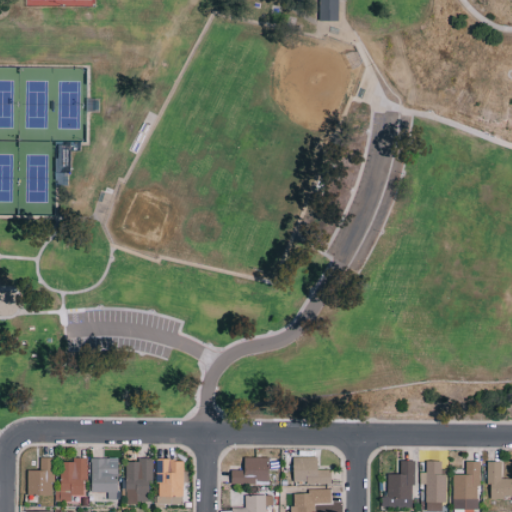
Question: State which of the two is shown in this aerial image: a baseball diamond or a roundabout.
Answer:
baseball diamond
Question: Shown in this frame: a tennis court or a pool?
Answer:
tennis court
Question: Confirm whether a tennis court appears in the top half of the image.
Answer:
Yes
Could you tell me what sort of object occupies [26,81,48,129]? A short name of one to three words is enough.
tennis court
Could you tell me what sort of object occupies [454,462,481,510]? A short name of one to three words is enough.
house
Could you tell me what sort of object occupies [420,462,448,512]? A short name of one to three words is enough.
house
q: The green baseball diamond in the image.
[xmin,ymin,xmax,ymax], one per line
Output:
[110,16,349,277]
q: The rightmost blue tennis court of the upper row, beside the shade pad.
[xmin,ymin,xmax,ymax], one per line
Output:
[58,81,81,129]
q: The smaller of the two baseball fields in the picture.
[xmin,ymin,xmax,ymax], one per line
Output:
[118,188,173,247]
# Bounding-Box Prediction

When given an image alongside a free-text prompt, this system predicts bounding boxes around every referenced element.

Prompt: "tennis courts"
[26,154,48,202]
[0,81,16,128]
[58,81,81,129]
[0,154,13,202]
[26,81,48,129]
